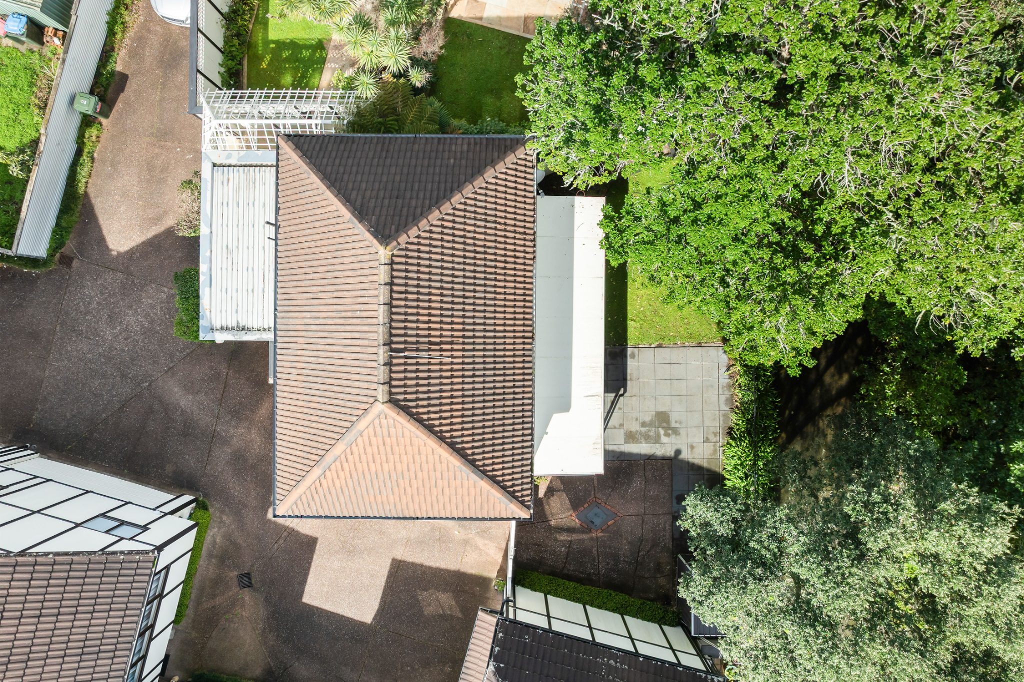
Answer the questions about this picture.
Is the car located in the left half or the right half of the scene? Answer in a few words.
left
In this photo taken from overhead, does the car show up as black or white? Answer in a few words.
white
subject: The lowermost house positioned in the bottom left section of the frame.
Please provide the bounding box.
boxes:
[0,440,200,682]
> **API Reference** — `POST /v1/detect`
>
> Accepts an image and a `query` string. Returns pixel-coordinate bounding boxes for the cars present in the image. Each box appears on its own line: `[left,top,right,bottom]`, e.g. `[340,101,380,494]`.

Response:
[148,0,193,31]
